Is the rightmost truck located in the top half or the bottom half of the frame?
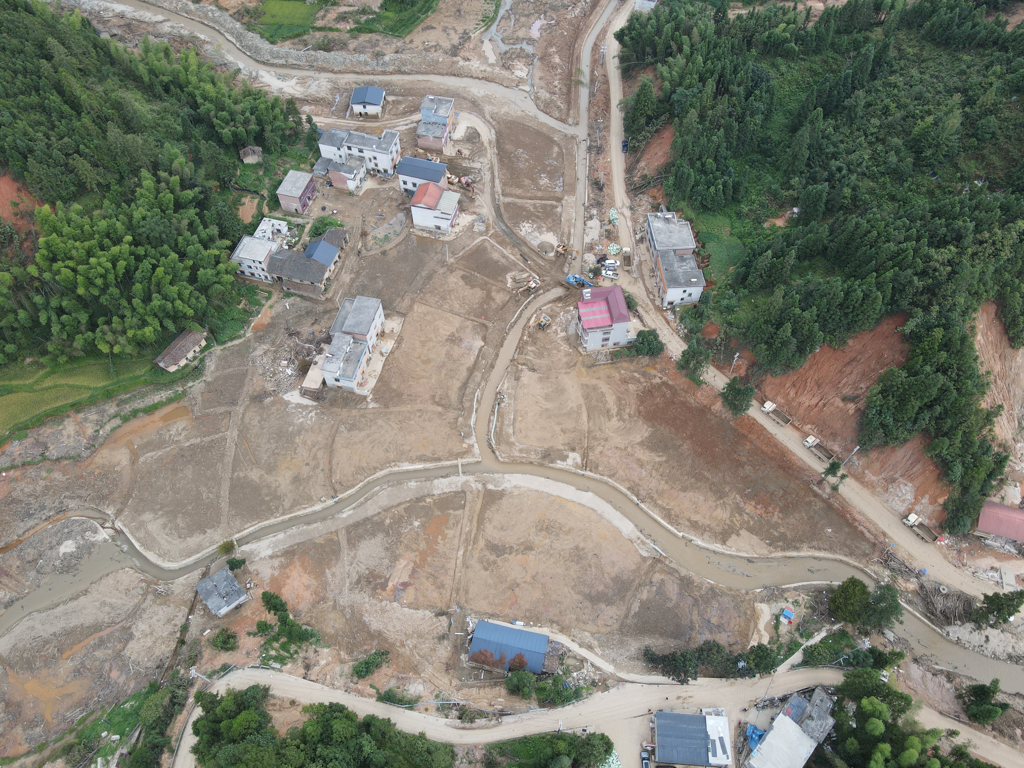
bottom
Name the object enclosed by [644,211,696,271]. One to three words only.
house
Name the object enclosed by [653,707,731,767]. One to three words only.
building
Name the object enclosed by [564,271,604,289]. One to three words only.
work vehicle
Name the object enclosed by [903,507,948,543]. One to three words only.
truck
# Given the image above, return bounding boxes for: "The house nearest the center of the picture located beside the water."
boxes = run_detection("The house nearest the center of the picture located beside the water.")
[576,286,635,347]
